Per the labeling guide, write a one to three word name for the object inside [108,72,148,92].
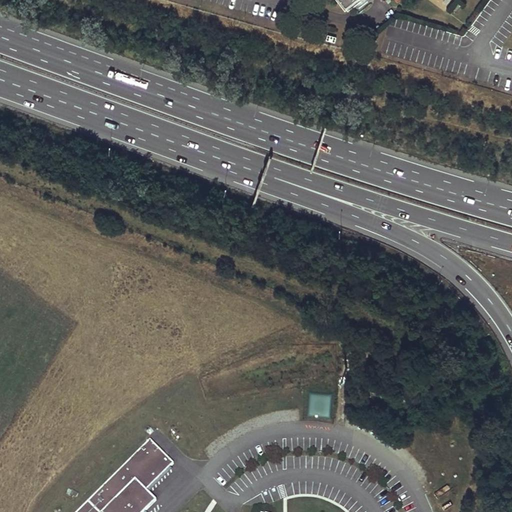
truck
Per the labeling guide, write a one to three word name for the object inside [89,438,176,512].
building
